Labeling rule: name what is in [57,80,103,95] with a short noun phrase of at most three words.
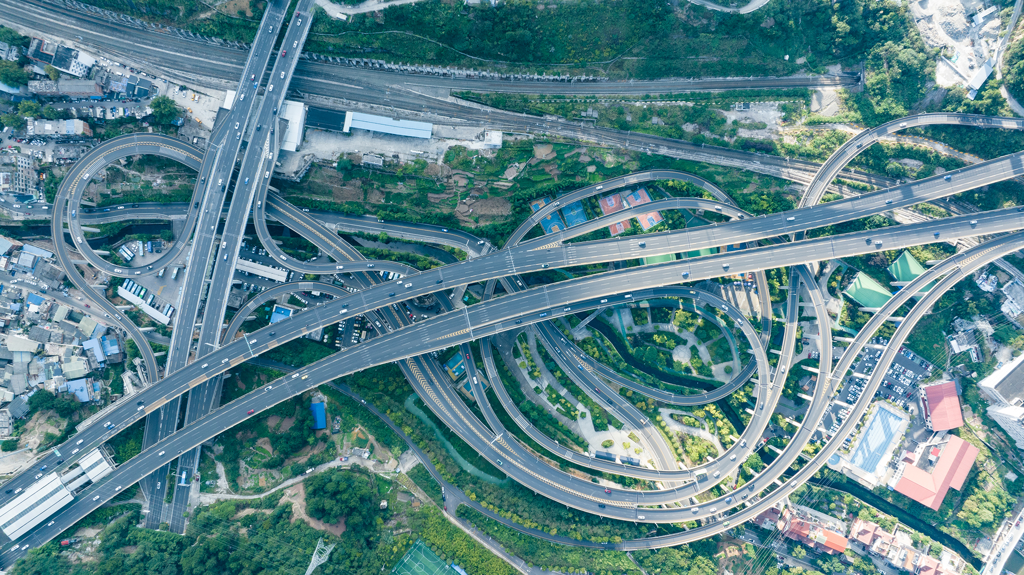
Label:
house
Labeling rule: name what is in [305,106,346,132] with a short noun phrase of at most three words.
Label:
shed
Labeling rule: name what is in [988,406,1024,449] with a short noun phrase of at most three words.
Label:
building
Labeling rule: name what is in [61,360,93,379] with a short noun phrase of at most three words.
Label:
house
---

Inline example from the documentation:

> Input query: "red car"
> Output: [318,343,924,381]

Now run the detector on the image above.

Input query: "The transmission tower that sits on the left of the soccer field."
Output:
[303,541,332,575]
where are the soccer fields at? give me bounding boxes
[391,540,458,575]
